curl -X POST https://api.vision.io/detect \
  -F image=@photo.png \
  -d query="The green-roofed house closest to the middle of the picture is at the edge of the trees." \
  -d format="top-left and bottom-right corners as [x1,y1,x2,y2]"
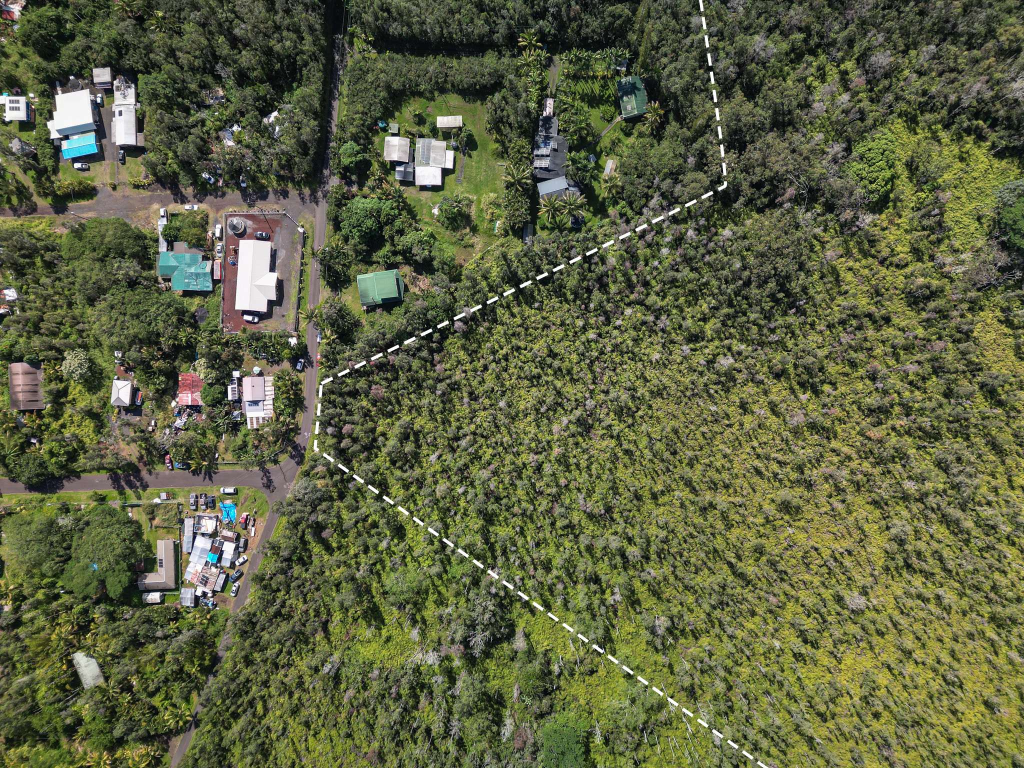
[357,269,404,306]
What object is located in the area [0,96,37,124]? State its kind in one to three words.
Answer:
house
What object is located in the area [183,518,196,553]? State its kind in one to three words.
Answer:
shed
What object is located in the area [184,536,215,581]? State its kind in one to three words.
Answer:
building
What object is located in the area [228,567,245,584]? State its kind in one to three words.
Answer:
vehicle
